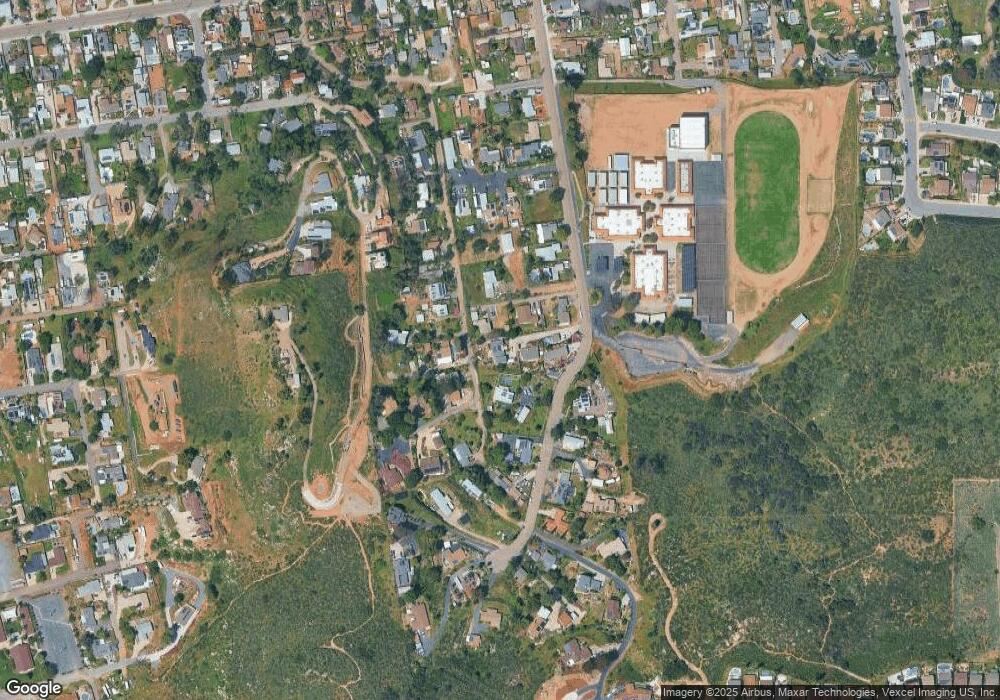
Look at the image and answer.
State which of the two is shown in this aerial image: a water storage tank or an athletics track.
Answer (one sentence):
There is an athletics track in the scene.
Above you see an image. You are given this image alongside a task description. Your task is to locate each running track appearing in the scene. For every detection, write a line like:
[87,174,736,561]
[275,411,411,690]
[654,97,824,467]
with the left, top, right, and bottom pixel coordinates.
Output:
[729,105,806,279]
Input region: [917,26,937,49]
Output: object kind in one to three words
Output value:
house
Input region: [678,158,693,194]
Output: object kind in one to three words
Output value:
building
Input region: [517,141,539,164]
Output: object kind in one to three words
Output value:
house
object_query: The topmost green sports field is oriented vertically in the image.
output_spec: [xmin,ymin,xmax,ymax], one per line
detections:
[729,105,806,279]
